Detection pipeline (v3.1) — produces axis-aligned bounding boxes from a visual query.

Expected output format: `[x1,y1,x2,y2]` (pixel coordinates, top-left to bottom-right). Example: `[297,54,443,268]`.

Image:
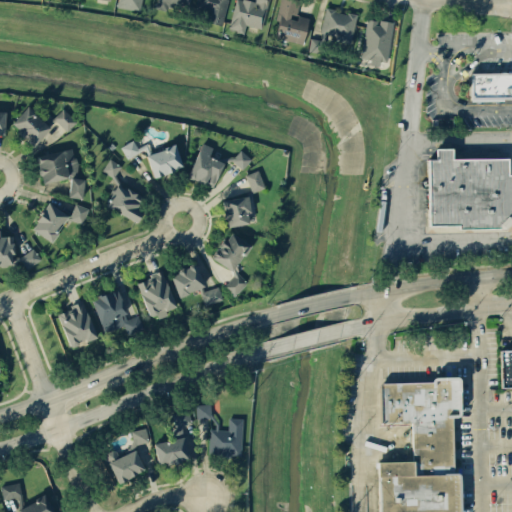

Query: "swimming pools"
[112,434,132,450]
[142,126,170,147]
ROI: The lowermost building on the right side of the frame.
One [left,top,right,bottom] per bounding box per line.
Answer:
[378,462,465,512]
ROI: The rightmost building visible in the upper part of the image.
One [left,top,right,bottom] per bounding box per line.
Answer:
[471,73,512,102]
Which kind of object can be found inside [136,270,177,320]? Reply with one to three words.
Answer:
house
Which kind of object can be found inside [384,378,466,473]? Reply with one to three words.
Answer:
building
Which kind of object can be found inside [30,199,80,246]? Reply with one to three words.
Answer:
house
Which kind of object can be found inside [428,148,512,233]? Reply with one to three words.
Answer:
building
